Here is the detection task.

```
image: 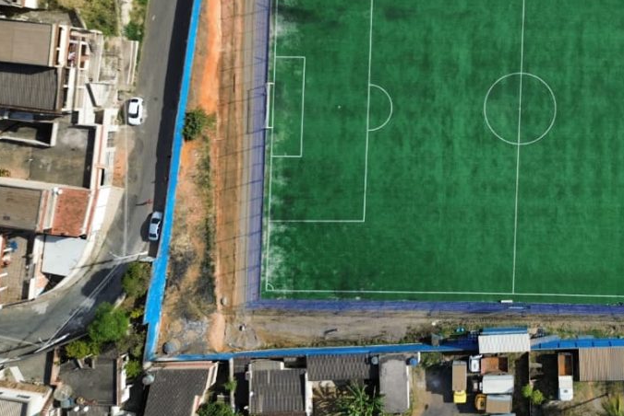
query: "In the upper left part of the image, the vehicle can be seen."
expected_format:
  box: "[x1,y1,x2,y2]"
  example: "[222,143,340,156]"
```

[125,97,142,124]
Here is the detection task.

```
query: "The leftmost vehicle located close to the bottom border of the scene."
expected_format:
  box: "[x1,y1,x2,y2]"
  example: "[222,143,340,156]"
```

[452,357,468,401]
